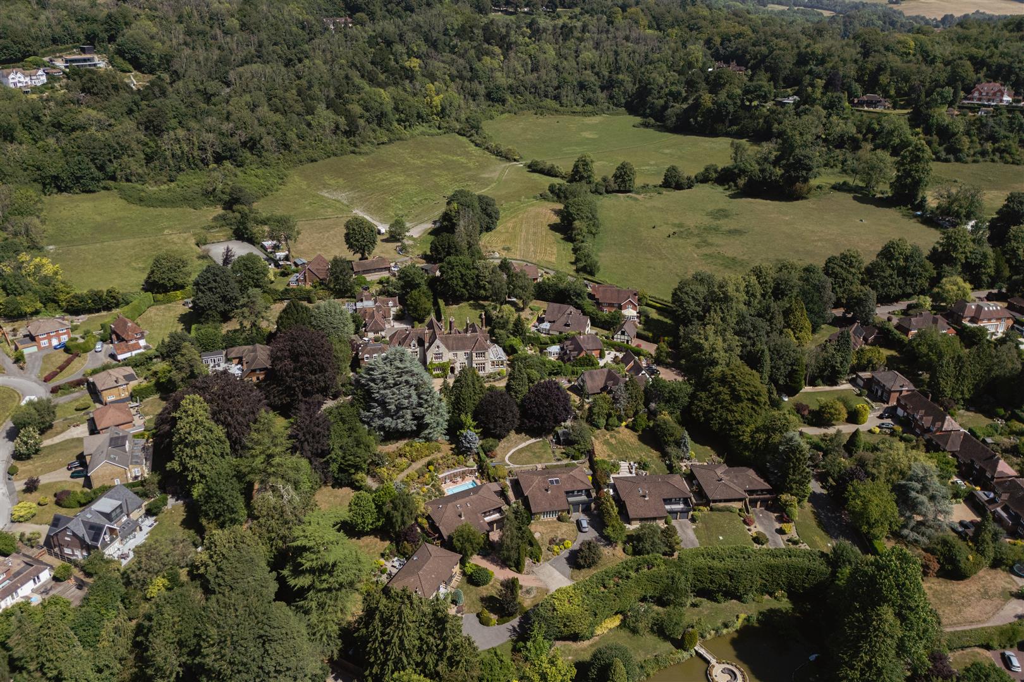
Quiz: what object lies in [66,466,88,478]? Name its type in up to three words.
vehicle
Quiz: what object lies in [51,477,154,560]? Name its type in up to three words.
house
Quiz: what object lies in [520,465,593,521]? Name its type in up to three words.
house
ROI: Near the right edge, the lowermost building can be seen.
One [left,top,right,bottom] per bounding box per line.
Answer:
[966,479,1024,532]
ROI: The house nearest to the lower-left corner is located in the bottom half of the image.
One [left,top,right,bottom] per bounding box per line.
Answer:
[0,543,49,606]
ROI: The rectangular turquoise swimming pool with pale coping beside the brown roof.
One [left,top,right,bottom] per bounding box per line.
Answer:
[445,480,472,497]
